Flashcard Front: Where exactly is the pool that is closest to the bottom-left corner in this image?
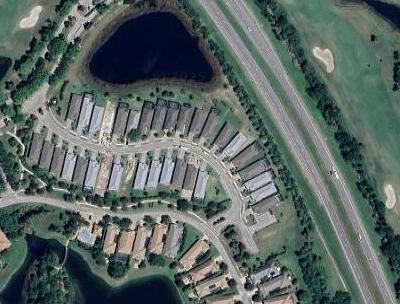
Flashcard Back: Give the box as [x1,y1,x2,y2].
[78,227,96,244]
